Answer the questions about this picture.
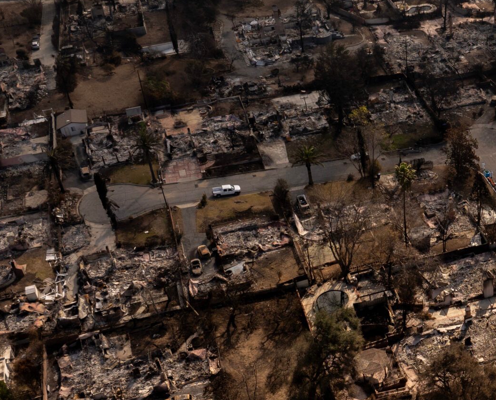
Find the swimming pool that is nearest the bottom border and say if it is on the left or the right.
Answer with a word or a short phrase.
right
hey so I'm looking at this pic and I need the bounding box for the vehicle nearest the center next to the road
[211,186,241,199]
